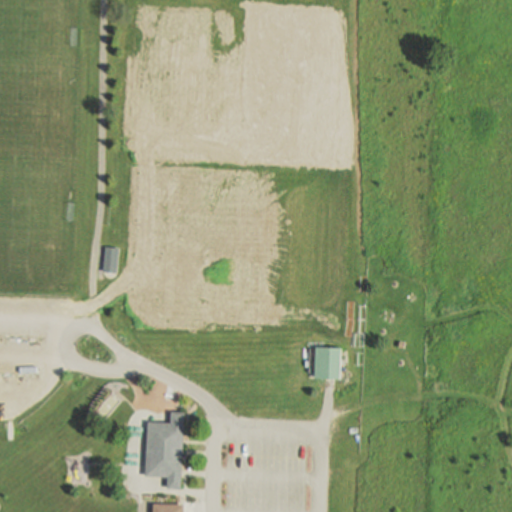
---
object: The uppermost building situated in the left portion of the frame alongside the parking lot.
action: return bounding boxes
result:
[145,412,186,490]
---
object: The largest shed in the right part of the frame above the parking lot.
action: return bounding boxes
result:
[315,348,344,380]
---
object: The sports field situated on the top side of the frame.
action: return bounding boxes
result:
[0,0,80,296]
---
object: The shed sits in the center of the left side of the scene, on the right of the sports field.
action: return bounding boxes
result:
[104,247,118,272]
